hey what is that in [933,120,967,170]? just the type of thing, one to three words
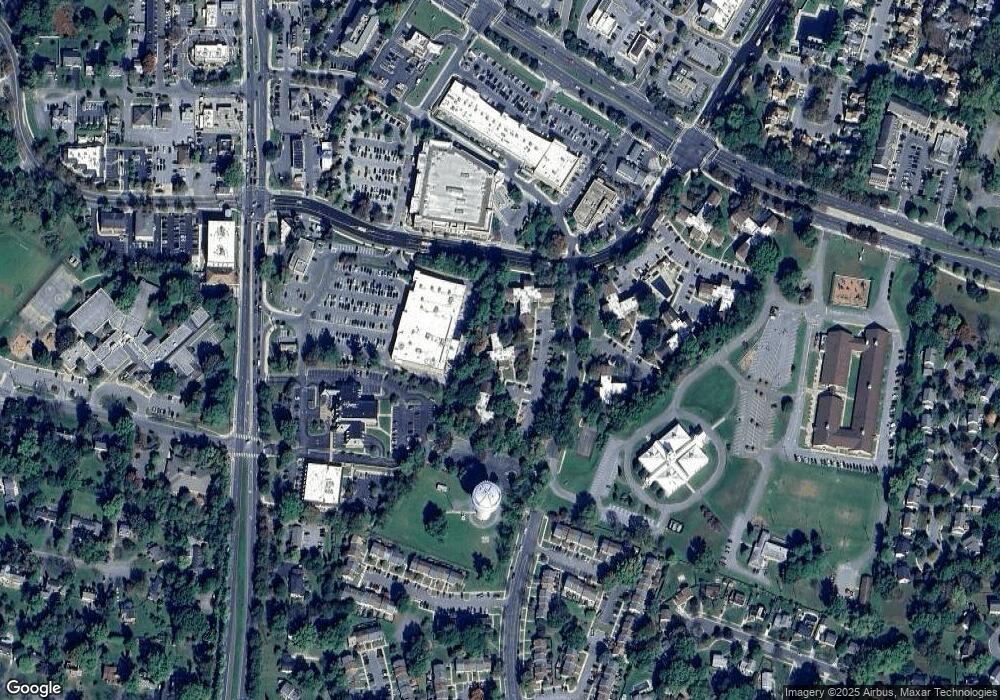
building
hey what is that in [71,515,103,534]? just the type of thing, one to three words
house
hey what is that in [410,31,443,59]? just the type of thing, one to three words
building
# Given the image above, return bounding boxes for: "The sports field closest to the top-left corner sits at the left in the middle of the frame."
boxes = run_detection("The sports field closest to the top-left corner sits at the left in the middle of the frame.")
[0,229,62,332]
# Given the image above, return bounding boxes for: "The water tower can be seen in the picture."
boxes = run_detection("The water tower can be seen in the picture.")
[470,478,500,521]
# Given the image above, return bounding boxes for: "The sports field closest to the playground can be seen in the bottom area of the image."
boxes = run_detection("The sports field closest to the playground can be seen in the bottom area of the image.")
[756,461,885,562]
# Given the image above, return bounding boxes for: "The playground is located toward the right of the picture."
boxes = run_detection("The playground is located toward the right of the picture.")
[831,276,870,306]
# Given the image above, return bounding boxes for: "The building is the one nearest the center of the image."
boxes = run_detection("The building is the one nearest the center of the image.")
[472,323,515,374]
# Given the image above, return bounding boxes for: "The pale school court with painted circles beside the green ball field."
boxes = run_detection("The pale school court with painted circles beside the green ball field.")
[19,264,81,327]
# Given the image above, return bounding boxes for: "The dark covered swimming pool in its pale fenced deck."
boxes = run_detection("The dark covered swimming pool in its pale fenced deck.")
[649,263,679,301]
